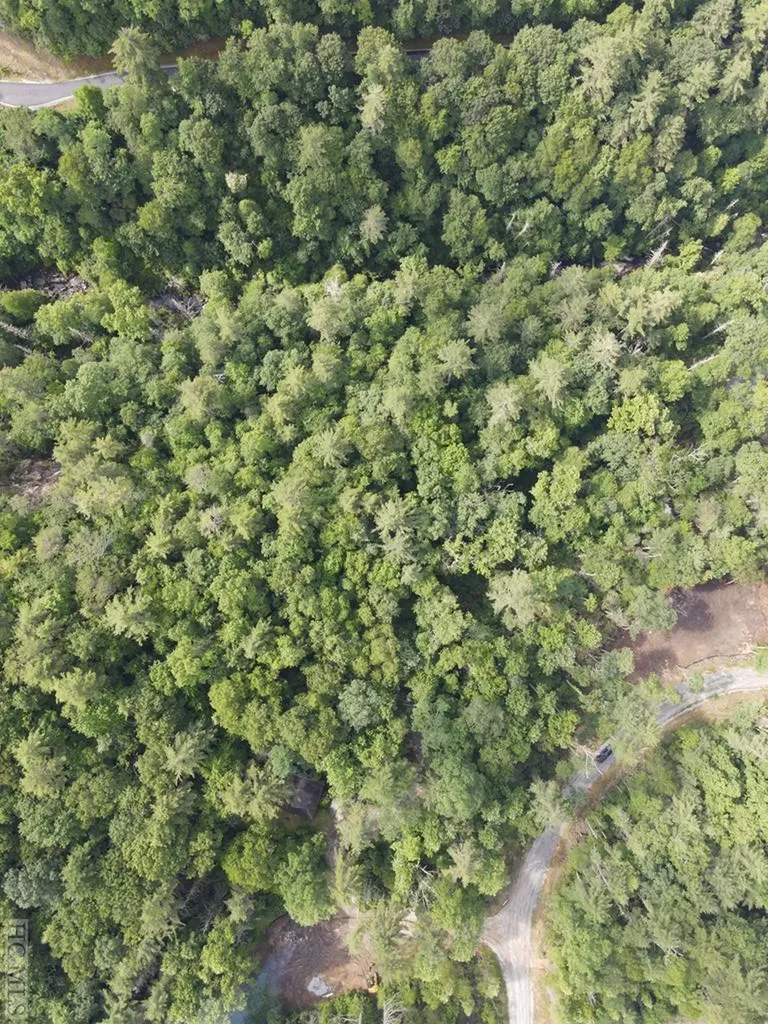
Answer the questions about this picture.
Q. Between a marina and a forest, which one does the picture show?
forest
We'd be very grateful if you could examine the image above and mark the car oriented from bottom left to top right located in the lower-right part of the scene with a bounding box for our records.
[595,743,613,763]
